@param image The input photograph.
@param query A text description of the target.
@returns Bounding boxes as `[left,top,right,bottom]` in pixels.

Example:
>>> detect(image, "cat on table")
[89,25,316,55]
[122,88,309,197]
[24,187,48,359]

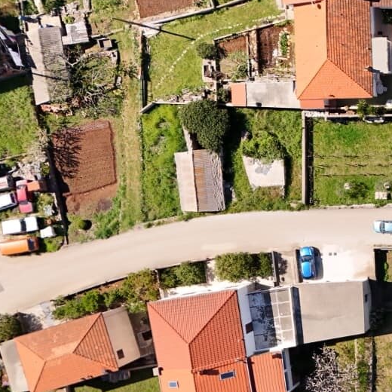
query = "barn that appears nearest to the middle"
[174,148,232,212]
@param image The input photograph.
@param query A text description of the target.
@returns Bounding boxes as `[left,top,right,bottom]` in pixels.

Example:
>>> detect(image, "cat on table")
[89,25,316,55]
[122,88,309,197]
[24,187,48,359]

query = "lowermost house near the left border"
[0,303,153,392]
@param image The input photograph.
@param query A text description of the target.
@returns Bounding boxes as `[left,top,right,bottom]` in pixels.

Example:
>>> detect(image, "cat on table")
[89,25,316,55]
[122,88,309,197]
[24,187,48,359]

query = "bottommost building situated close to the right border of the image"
[294,275,377,344]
